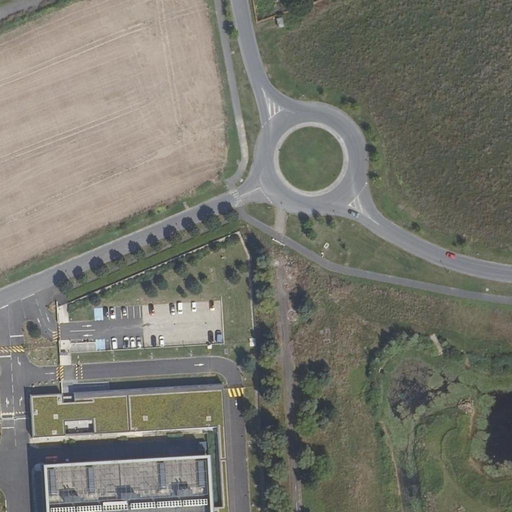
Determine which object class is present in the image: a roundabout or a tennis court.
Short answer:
roundabout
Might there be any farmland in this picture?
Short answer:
Yes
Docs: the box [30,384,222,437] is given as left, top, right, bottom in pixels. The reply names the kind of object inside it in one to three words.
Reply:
building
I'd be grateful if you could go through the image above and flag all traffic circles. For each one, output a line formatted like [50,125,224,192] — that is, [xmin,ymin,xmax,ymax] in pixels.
[251,94,368,216]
